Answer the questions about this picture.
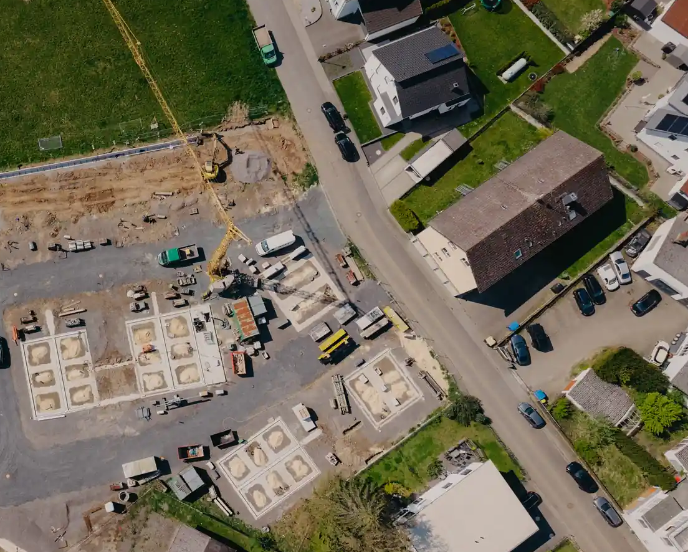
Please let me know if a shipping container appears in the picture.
Yes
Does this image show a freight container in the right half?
No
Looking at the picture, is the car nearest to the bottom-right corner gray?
Yes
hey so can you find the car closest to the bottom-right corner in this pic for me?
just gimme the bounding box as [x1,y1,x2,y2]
[589,494,620,529]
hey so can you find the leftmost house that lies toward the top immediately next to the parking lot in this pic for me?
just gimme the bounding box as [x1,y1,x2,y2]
[418,129,614,295]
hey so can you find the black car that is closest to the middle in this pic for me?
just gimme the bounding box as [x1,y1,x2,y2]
[333,133,358,164]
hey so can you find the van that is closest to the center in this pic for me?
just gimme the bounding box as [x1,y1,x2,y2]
[252,229,297,258]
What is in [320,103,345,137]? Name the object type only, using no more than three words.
car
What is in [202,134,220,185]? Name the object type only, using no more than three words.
work vehicle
